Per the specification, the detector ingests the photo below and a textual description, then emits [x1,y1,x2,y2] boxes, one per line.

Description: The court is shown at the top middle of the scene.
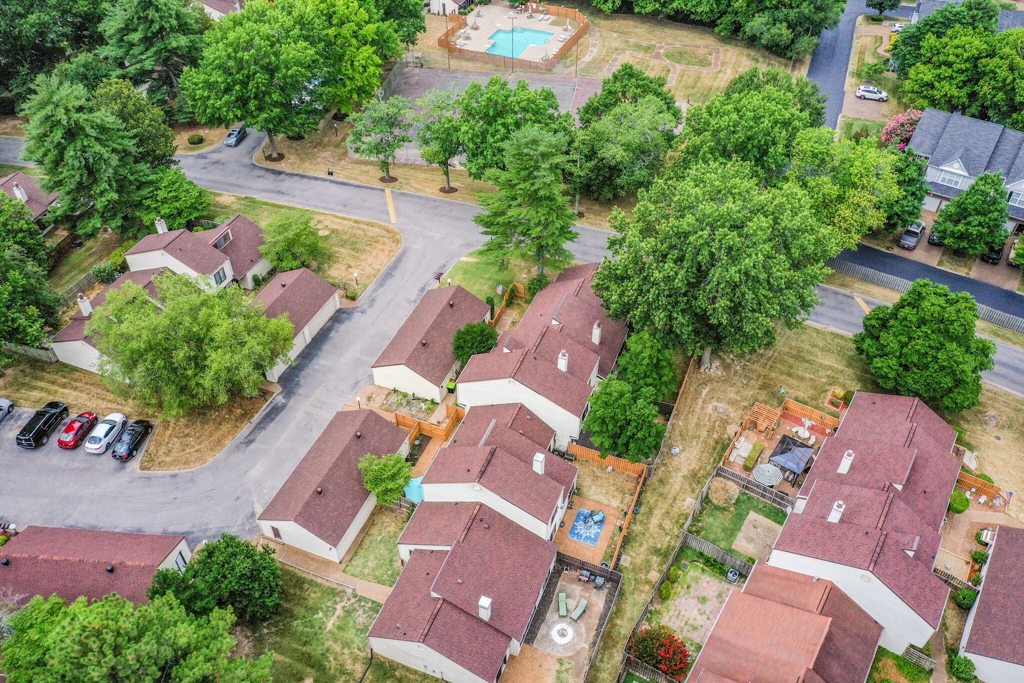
[346,68,606,172]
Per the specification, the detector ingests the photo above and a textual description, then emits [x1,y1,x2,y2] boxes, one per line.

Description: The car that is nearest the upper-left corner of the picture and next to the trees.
[224,132,245,147]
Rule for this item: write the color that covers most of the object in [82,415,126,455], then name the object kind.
white car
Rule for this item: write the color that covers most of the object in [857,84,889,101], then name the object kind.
white car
